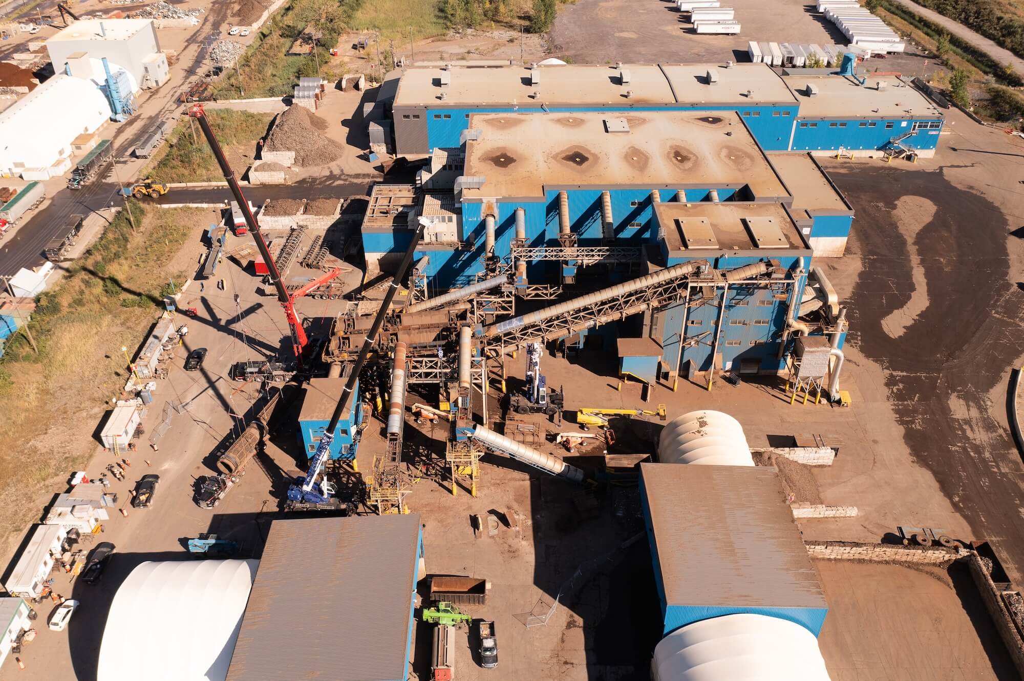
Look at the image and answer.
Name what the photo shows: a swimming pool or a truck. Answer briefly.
truck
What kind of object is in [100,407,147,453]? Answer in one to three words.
building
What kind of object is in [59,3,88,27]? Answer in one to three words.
work vehicle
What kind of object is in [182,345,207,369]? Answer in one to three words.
truck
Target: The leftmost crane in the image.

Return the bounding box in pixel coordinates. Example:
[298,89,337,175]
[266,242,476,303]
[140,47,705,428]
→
[186,96,344,396]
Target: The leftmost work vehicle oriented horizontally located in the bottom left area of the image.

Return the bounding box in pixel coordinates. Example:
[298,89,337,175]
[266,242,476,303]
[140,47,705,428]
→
[181,530,259,561]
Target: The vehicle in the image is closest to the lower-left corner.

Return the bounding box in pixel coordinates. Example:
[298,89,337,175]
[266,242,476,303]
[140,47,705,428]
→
[43,594,81,631]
